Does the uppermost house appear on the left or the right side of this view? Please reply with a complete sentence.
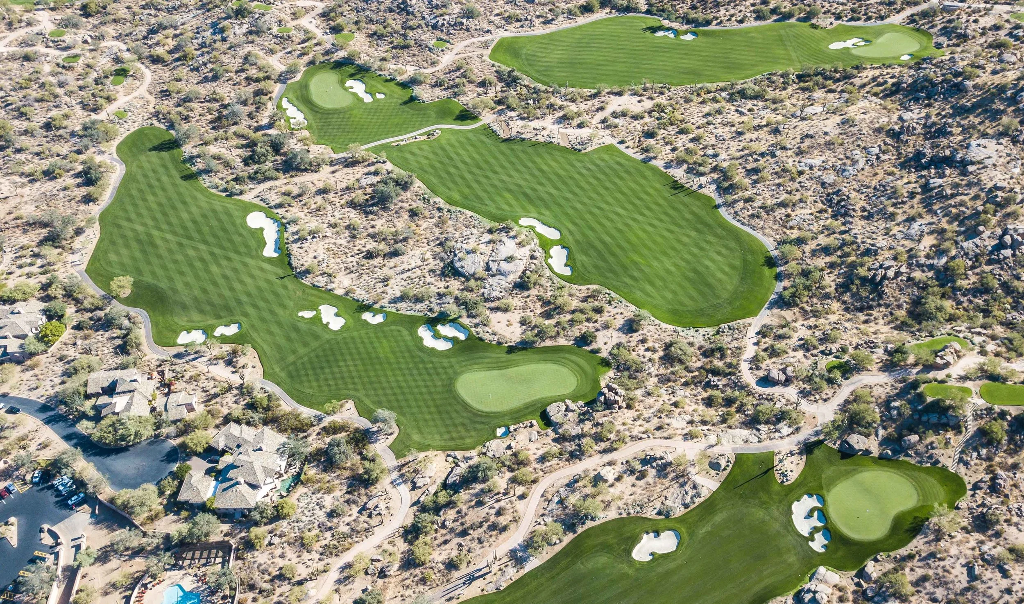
The uppermost house is on the left side of the image.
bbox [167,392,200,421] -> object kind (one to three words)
house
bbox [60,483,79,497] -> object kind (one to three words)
car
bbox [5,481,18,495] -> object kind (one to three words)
vehicle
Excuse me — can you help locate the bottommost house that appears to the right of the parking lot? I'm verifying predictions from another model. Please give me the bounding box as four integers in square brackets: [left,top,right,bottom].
[178,421,288,514]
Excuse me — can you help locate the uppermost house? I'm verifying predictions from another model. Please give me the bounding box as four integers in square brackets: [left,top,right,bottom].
[0,301,48,358]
